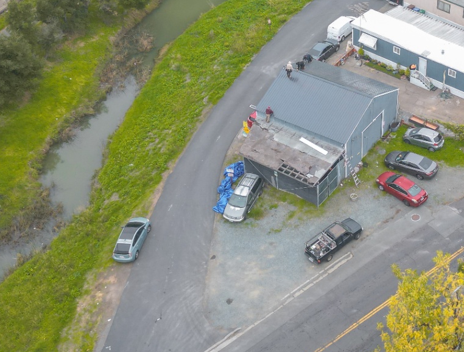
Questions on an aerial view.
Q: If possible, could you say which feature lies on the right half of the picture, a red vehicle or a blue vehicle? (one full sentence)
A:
Looking on the right half of the picture, you will find a red vehicle.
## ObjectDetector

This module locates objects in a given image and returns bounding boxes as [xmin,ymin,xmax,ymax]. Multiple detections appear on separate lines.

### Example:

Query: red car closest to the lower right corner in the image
[375,175,429,206]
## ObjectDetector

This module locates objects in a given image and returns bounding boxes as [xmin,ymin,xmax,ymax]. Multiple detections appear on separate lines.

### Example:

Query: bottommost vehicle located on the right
[302,224,361,264]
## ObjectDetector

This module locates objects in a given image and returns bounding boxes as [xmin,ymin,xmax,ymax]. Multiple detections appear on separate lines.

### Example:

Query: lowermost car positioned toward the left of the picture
[113,221,150,265]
